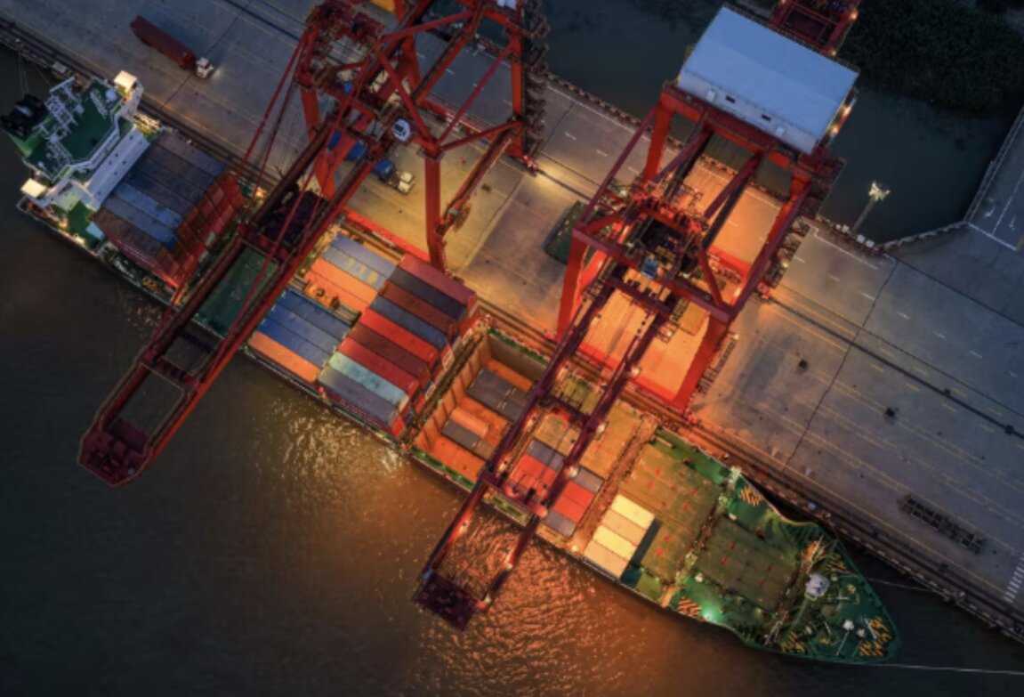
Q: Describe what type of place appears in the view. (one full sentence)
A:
It's a port.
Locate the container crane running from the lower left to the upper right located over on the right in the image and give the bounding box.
[413,0,863,632]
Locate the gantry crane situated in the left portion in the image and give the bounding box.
[68,0,554,486]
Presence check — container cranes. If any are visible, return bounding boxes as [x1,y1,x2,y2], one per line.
[68,0,554,486]
[413,0,863,632]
